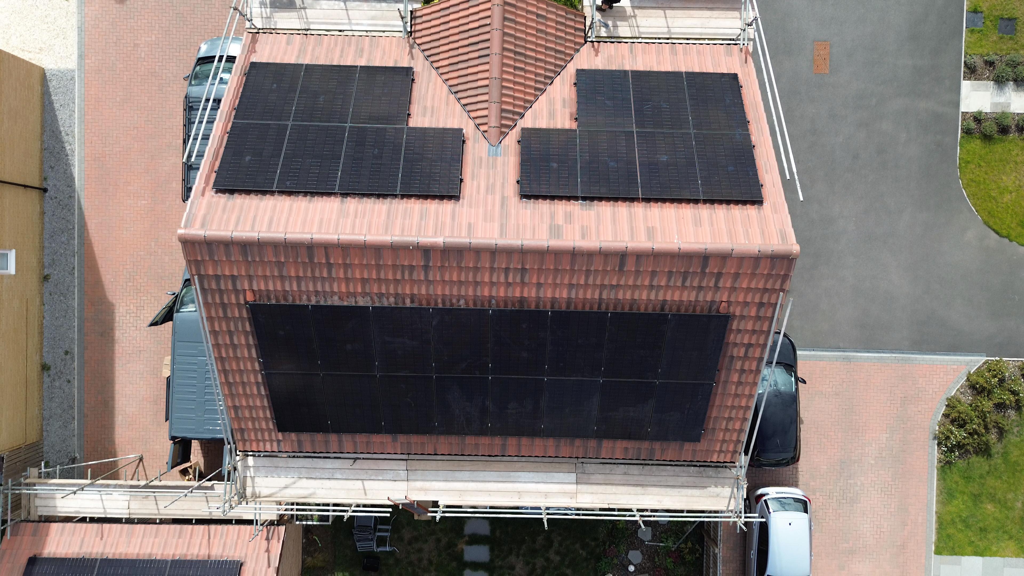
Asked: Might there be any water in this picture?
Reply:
No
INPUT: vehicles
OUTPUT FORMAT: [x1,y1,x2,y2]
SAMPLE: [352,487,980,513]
[740,328,809,470]
[176,38,239,217]
[741,483,812,576]
[147,263,239,484]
